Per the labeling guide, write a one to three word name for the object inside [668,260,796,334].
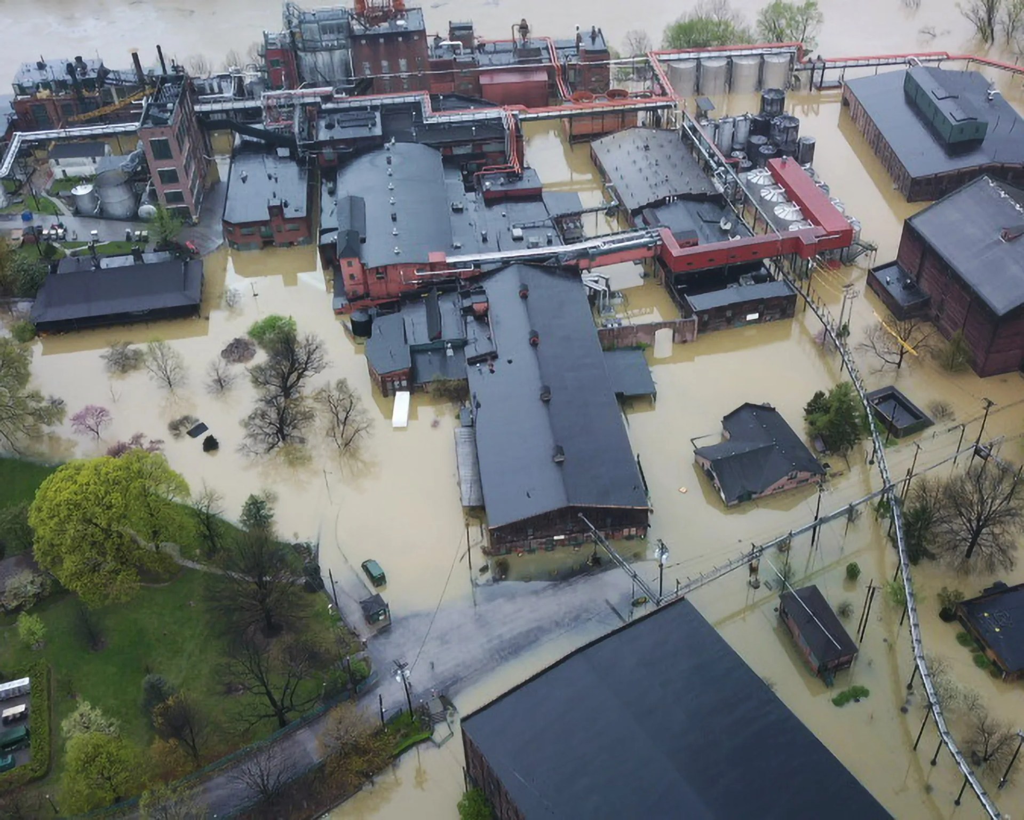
building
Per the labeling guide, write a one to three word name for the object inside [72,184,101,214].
storage tank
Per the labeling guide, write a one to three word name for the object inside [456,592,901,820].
warehouse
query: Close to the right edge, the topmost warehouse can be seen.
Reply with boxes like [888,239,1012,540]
[841,62,1024,202]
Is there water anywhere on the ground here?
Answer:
Yes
